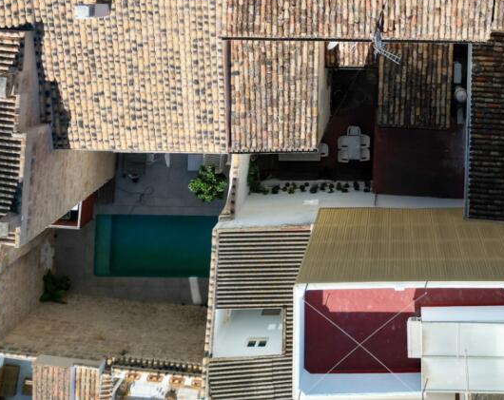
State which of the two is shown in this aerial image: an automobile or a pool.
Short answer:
pool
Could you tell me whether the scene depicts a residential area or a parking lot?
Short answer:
residential area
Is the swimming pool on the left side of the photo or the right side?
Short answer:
left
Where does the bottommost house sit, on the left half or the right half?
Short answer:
left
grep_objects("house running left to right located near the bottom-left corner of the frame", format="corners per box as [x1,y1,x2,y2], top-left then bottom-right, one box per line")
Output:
[32,364,120,400]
